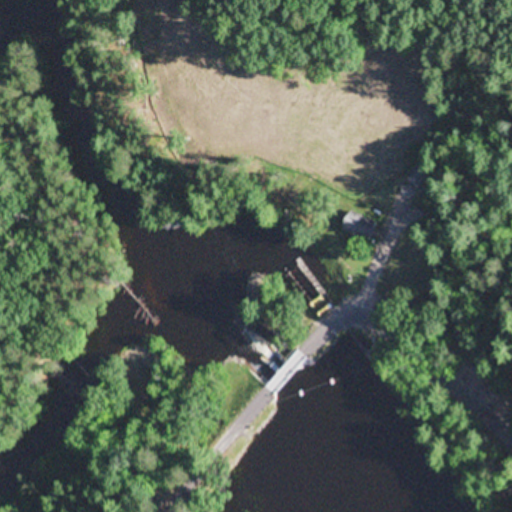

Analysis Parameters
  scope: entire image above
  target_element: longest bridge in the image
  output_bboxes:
[266,350,306,396]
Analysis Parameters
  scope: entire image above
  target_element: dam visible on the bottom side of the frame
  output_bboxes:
[243,328,306,400]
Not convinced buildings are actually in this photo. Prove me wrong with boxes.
[343,212,377,238]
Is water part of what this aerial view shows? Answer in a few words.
Yes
